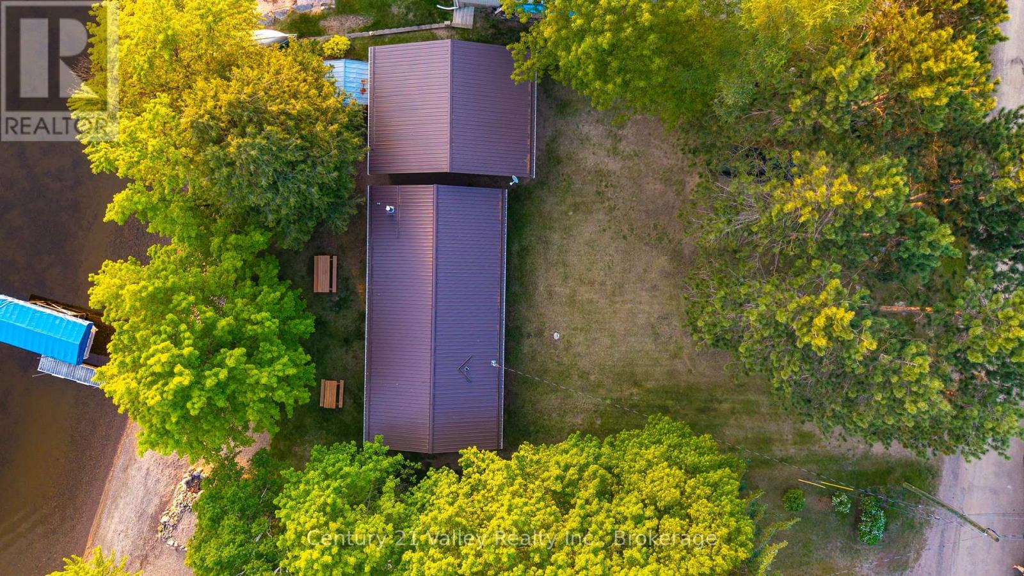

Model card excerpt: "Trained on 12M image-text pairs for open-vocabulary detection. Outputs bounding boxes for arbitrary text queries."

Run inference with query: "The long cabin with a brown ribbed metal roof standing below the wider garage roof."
[361,184,509,452]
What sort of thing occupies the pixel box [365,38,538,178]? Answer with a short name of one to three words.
building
